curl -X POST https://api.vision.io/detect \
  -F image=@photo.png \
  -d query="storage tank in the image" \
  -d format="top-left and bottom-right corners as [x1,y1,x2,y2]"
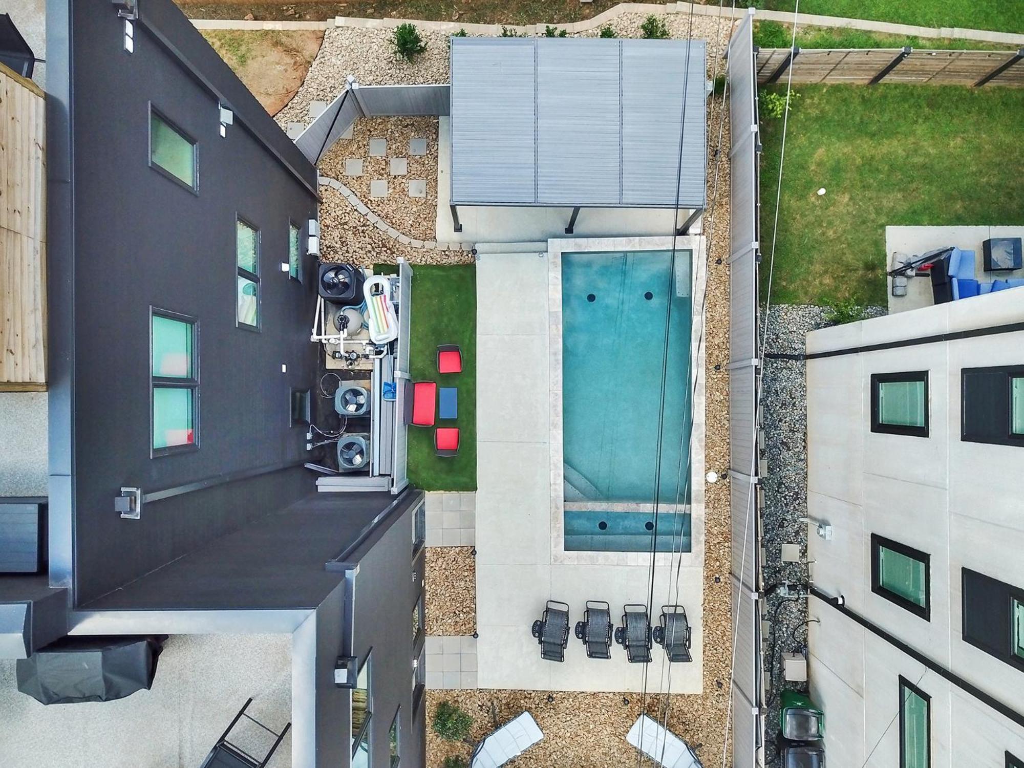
[337,307,366,338]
